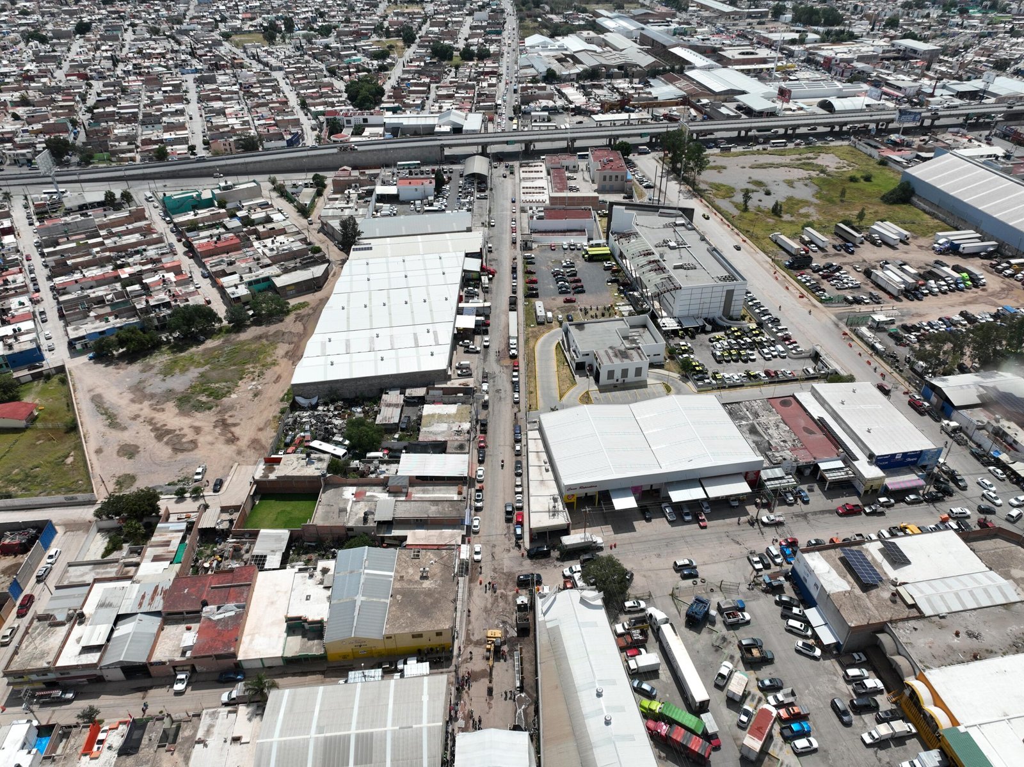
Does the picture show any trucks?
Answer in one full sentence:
Yes, I can see a truck in this picture.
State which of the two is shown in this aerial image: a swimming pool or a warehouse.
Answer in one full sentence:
I can see a warehouse in this picture.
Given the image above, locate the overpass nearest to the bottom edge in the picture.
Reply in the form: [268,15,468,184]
[0,97,1024,187]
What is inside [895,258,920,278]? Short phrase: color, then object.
gray vehicle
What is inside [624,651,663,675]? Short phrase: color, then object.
white truck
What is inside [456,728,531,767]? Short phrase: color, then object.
white tent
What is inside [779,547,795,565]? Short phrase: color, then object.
blue car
